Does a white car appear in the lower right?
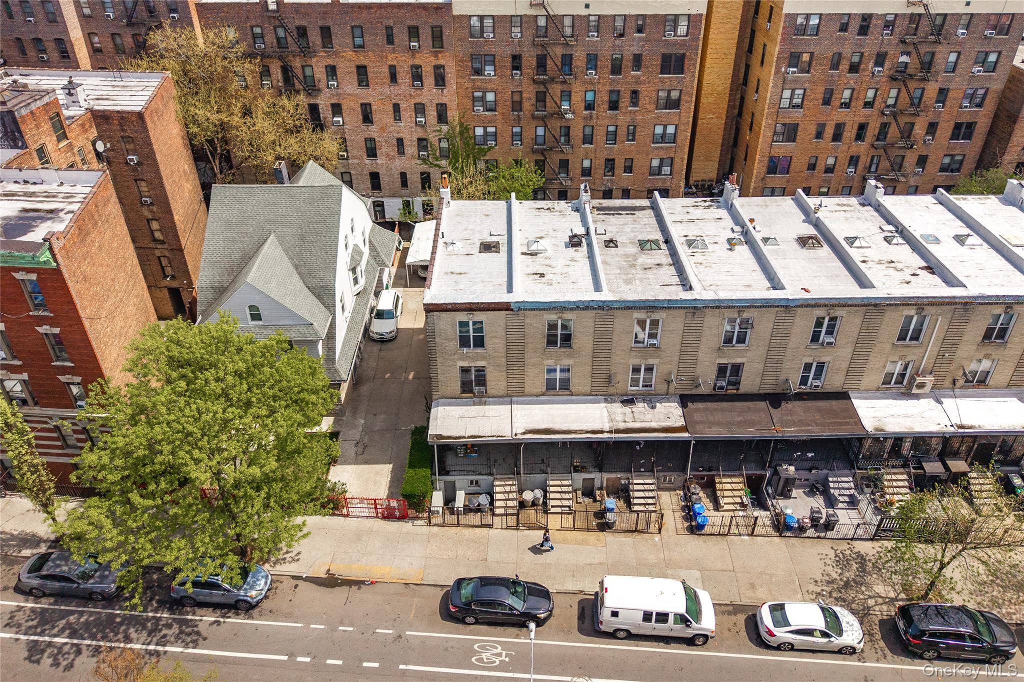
Yes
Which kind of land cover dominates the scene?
buildings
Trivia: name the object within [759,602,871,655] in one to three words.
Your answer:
car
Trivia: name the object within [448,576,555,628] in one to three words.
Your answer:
car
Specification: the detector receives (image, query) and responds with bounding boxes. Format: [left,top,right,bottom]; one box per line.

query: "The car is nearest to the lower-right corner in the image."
[897,603,1024,665]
